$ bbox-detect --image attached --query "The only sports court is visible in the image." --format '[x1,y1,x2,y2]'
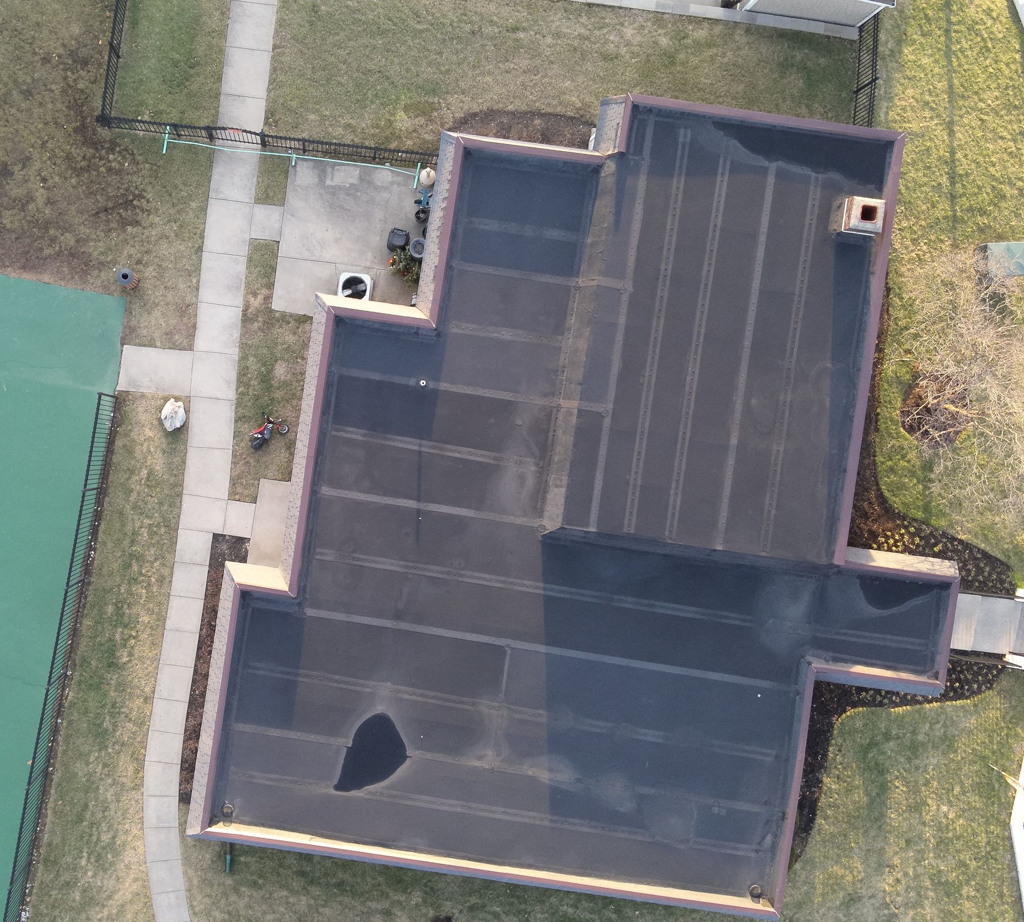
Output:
[0,274,126,922]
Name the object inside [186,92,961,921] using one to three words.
building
